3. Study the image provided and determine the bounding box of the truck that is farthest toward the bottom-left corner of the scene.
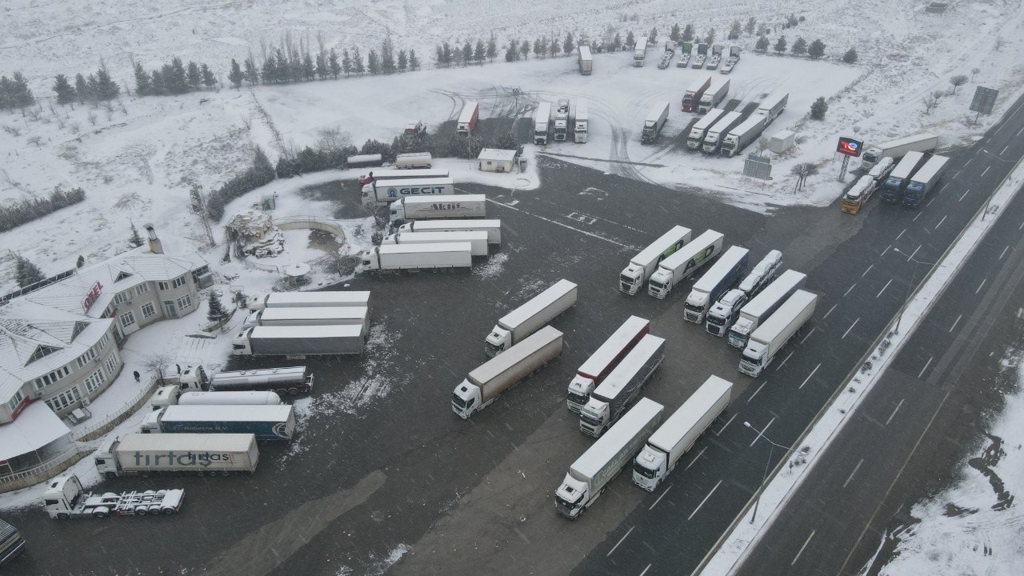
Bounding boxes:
[0,519,30,572]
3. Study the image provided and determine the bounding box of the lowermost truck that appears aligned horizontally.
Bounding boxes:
[34,472,186,516]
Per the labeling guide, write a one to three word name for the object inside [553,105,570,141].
vehicle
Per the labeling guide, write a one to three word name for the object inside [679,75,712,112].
truck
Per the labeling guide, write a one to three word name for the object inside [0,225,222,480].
building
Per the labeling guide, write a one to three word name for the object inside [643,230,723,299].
truck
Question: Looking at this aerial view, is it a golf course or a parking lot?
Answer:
parking lot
